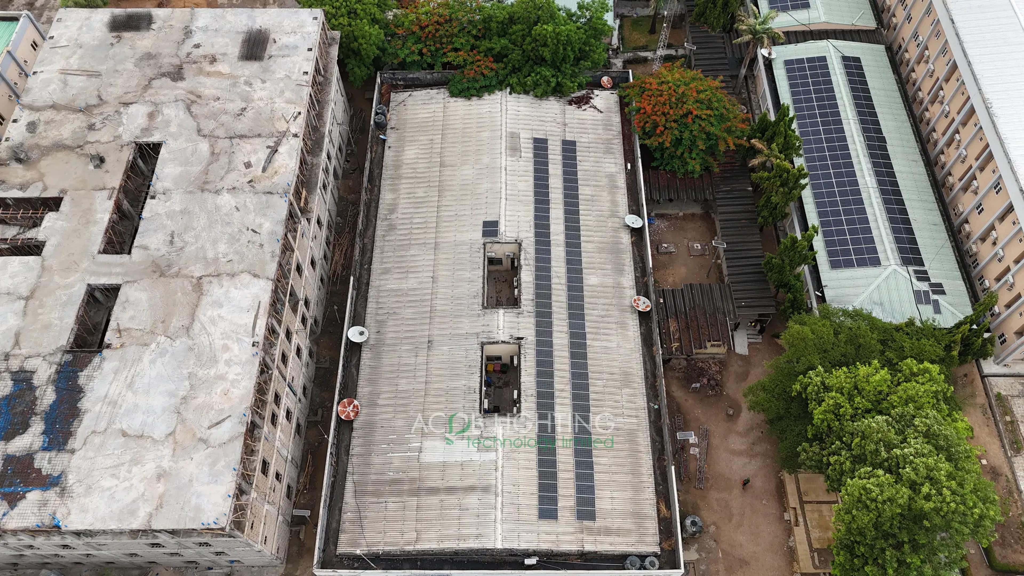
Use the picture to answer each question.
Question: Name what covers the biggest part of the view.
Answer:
buildings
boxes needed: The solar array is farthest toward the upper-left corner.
[482,220,499,239]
